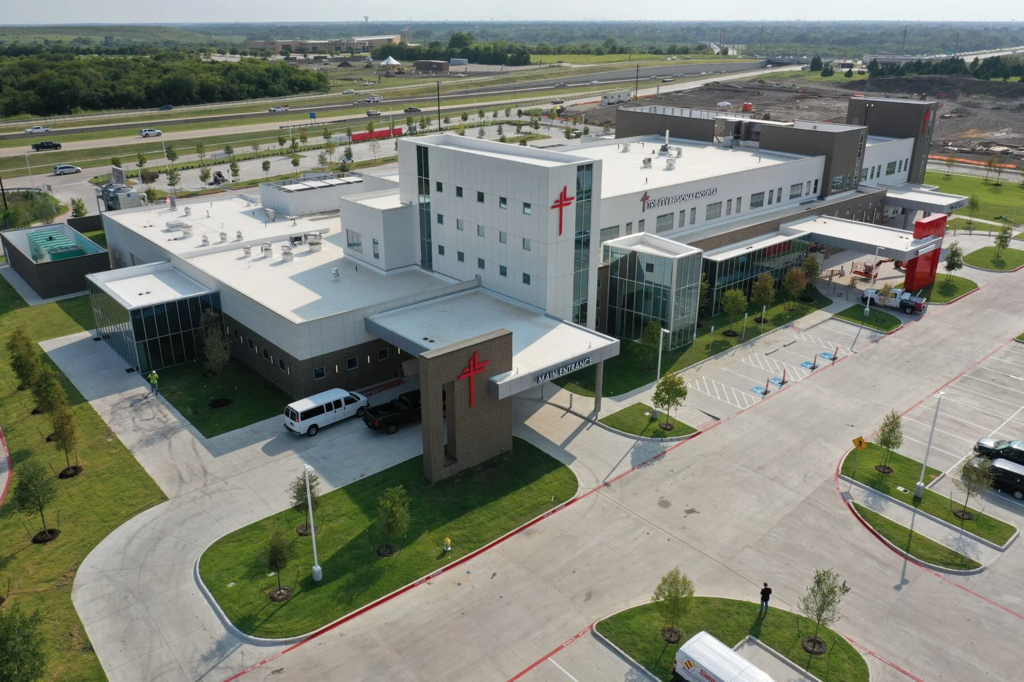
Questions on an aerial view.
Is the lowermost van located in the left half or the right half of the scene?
right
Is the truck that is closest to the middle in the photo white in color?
No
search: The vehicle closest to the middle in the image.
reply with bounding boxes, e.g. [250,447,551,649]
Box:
[368,386,421,430]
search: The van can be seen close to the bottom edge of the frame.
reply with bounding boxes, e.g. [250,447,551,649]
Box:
[673,632,789,682]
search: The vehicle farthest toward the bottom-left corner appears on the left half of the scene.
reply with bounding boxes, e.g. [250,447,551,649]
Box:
[287,384,378,431]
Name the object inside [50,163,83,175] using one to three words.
vehicle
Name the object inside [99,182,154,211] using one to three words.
cooling tower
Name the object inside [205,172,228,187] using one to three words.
work vehicle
